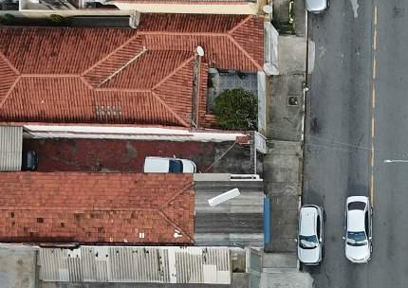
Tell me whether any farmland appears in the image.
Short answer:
No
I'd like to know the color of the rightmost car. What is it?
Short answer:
white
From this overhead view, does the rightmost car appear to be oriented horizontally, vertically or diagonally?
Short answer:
vertically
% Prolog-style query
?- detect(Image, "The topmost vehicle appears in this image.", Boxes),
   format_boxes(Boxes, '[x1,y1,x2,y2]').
[305,0,332,16]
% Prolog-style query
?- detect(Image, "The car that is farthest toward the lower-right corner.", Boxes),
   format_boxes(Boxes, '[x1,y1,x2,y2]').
[341,196,375,265]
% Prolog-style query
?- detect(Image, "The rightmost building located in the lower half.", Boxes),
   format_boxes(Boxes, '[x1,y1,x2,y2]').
[193,173,279,252]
